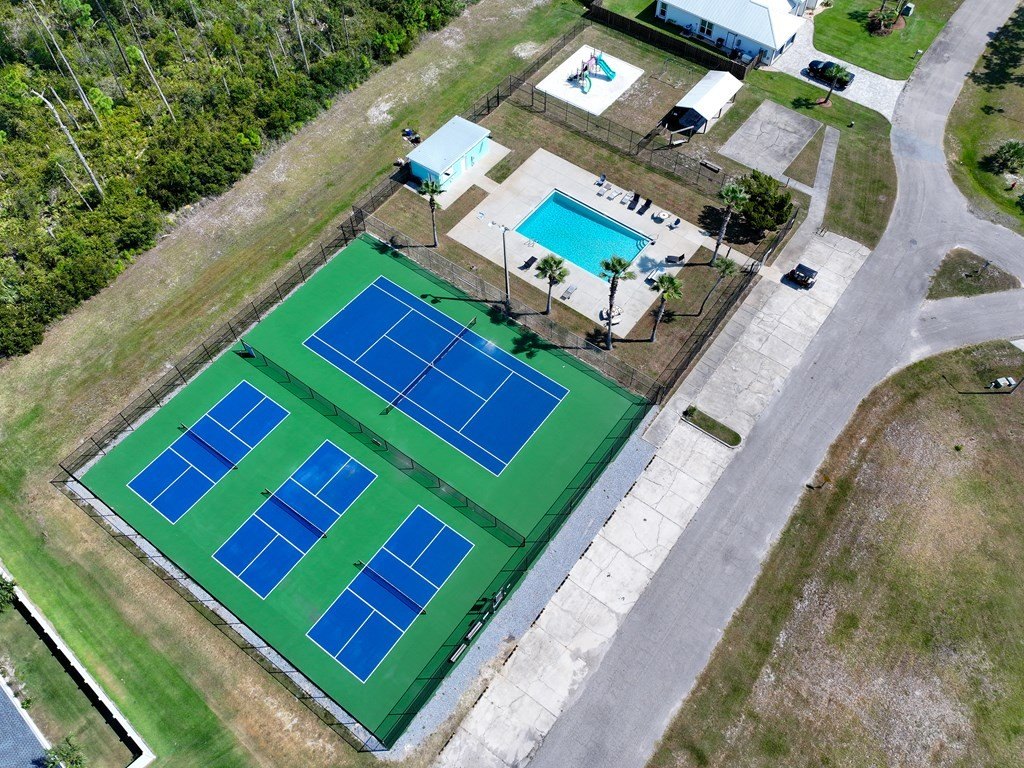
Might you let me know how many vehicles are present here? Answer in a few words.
2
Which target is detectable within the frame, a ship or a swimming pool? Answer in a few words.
swimming pool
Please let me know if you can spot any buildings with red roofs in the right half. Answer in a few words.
No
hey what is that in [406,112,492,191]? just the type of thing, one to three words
building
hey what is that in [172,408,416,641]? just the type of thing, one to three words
sports court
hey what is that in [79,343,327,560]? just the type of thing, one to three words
sports court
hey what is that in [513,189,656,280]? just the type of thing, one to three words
swimming pool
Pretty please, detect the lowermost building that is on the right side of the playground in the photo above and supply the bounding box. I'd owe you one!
[673,70,744,137]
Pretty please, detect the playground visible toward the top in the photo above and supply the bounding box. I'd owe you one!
[570,46,622,95]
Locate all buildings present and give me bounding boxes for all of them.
[0,672,65,768]
[655,0,834,65]
[673,70,744,137]
[406,112,492,191]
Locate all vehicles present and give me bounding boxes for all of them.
[805,58,852,86]
[788,262,817,289]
